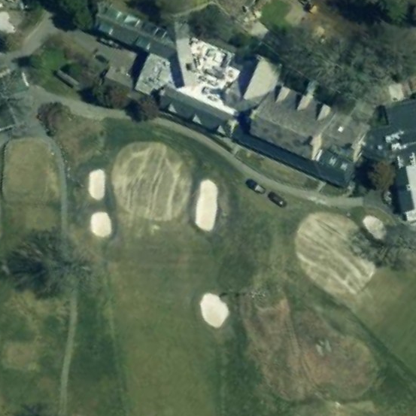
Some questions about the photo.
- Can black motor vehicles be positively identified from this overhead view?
Yes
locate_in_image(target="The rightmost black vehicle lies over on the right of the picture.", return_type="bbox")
[267,190,287,207]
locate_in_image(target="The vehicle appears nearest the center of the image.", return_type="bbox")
[244,177,266,194]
